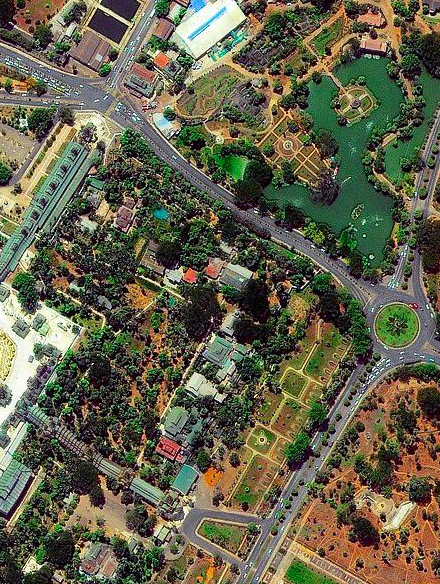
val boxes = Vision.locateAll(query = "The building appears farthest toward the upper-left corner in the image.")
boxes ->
[69,31,110,71]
